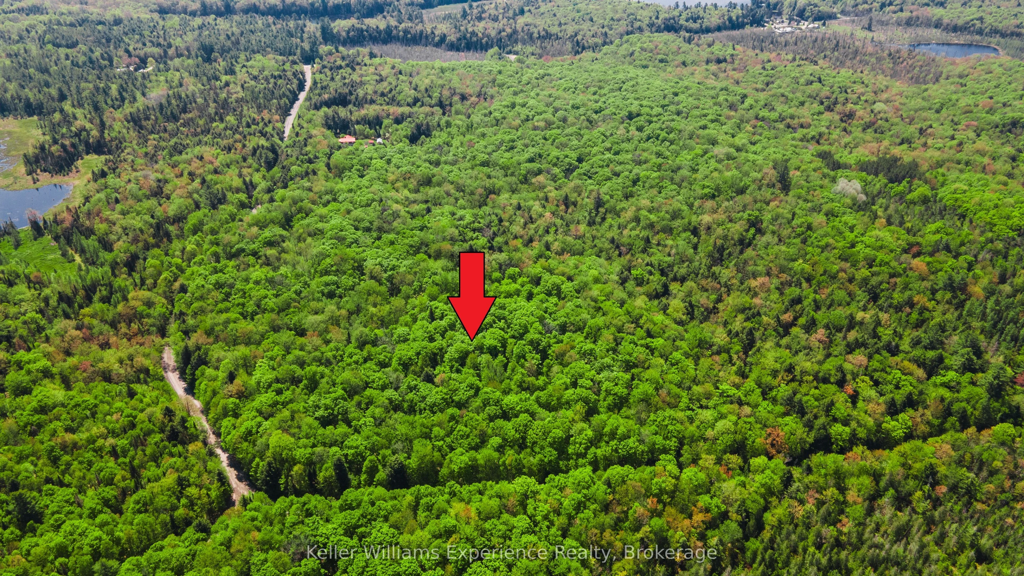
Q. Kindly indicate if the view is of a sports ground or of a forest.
forest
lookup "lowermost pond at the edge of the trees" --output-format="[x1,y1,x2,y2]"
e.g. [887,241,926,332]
[0,184,73,234]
